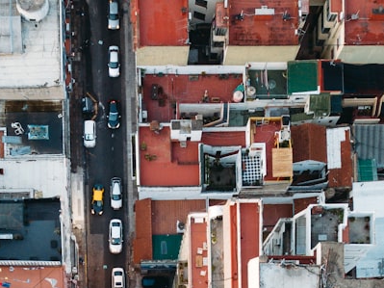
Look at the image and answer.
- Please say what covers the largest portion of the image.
buildings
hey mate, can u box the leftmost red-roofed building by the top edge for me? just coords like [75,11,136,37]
[130,0,227,80]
